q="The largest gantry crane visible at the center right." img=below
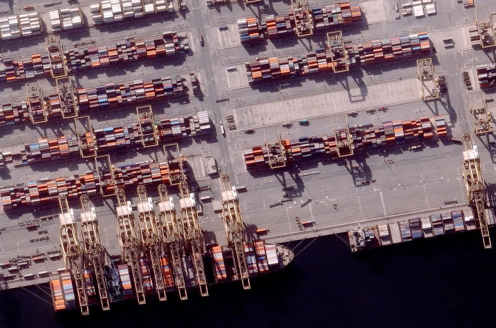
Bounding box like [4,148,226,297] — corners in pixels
[459,126,491,247]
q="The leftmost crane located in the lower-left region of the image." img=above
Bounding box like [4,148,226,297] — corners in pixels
[58,193,89,316]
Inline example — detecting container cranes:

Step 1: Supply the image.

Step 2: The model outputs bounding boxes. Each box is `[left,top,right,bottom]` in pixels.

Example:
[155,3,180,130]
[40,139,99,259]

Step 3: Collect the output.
[177,174,208,295]
[116,184,146,306]
[291,0,313,40]
[75,114,97,160]
[475,6,496,51]
[56,77,78,123]
[219,167,251,288]
[136,105,159,151]
[79,190,109,312]
[327,31,350,76]
[26,82,48,128]
[58,193,89,316]
[156,177,187,299]
[332,115,355,161]
[95,154,118,199]
[416,57,439,103]
[136,180,167,302]
[459,126,491,247]
[264,126,286,172]
[469,89,492,135]
[163,143,185,189]
[45,35,67,81]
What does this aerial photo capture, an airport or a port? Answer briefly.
port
